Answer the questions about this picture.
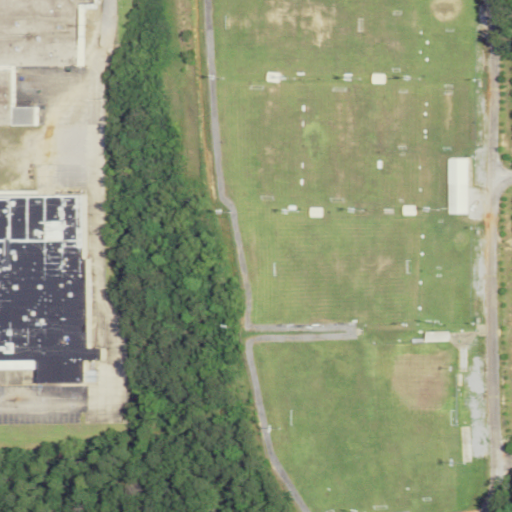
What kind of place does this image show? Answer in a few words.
sports ground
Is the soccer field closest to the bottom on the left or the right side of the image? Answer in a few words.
right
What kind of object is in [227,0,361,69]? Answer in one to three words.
soccer field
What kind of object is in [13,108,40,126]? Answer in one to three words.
building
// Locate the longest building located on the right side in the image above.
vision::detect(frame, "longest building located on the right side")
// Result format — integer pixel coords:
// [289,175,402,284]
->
[450,157,475,214]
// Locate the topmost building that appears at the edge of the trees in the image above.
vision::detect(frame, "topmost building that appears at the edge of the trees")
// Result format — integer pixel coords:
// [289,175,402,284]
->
[0,0,100,67]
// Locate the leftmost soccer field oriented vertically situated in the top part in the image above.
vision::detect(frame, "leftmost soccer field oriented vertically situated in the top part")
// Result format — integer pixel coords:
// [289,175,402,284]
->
[248,87,300,199]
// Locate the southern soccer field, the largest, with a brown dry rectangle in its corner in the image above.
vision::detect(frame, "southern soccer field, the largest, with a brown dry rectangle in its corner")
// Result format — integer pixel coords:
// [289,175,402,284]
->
[291,346,453,498]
